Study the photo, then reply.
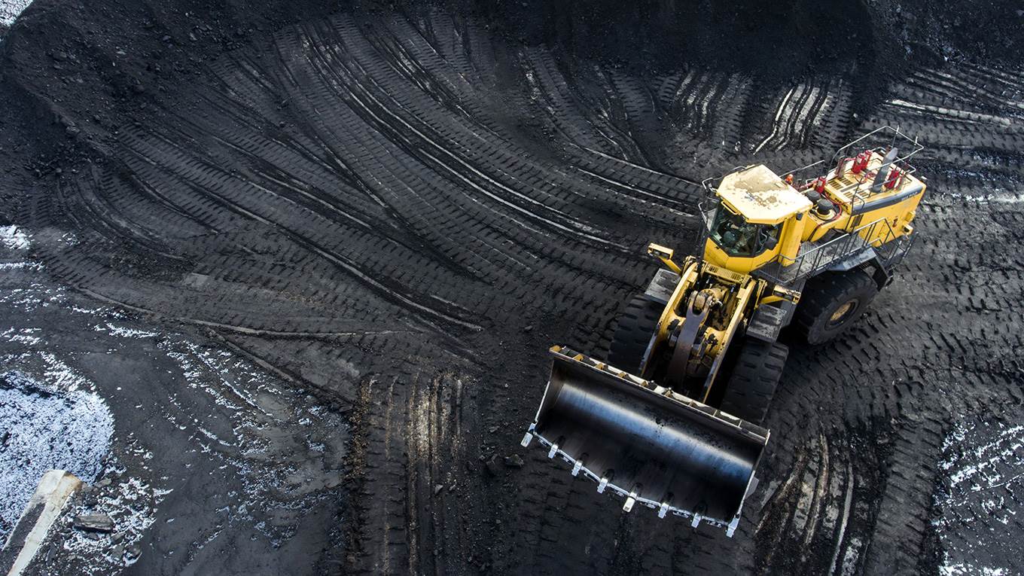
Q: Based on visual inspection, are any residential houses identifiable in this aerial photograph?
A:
No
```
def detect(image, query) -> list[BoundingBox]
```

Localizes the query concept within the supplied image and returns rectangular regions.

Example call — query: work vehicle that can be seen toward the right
[522,125,927,538]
